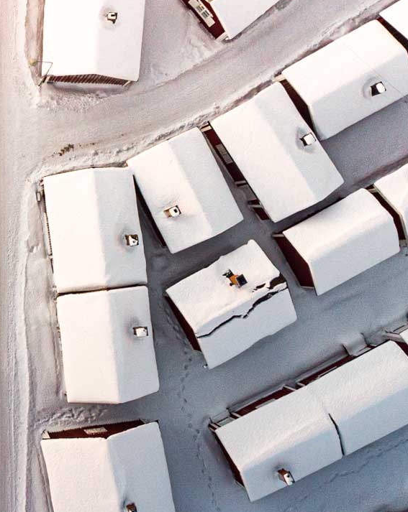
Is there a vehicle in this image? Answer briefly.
No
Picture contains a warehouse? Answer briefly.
No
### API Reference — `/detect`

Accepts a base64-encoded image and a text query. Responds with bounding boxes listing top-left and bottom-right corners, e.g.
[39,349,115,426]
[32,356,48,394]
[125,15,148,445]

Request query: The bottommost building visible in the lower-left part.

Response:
[42,417,175,512]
